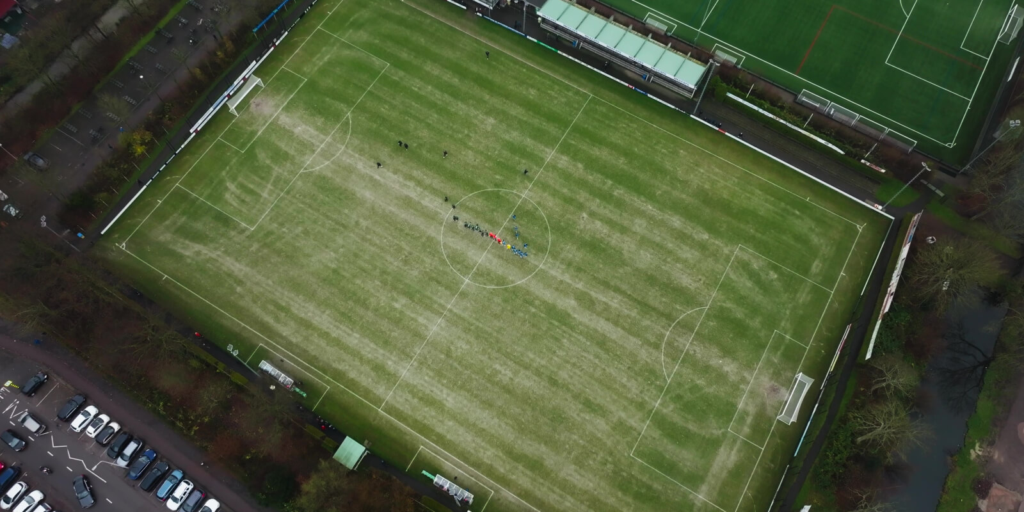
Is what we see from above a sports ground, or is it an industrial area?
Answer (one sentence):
The picture captures a sports ground.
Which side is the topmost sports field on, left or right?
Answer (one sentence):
The topmost sports field is on the right side of the image.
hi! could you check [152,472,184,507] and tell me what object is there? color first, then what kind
blue car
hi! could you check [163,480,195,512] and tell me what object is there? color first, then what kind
white car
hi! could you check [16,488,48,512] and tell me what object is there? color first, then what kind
white car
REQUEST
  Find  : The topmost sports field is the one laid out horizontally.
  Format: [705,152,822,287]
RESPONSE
[593,0,1024,173]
